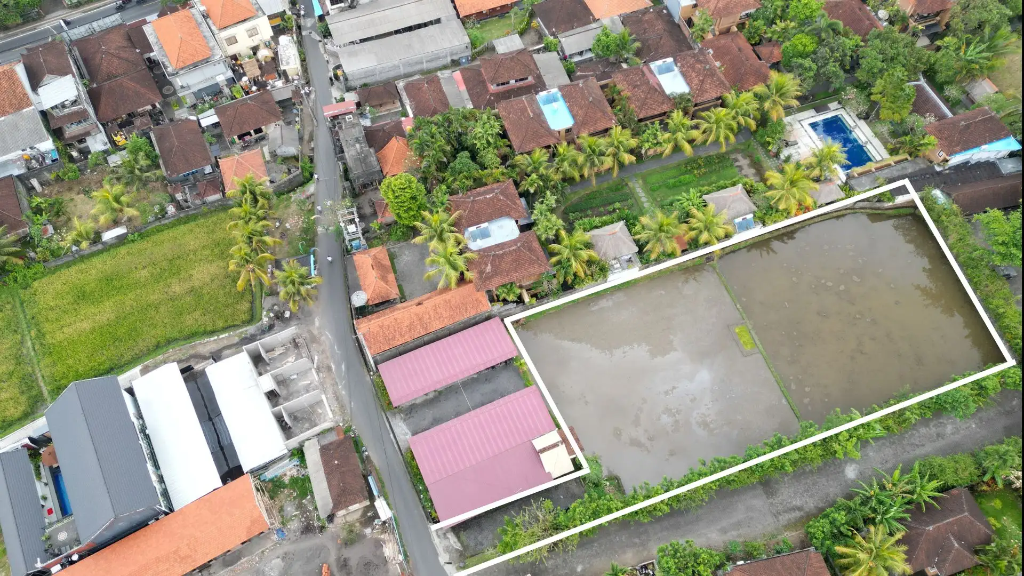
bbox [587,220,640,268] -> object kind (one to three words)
shed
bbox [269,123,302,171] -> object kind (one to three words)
shed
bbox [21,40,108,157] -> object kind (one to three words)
house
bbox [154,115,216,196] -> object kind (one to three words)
house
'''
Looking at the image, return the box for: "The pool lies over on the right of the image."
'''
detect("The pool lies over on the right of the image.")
[781,103,893,181]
